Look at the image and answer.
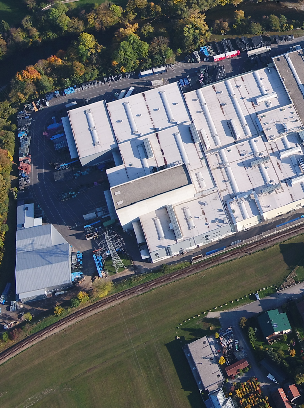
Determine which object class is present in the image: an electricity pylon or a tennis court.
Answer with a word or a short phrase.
electricity pylon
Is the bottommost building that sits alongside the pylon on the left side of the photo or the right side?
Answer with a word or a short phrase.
left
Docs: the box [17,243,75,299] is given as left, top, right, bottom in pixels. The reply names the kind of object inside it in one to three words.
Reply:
building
